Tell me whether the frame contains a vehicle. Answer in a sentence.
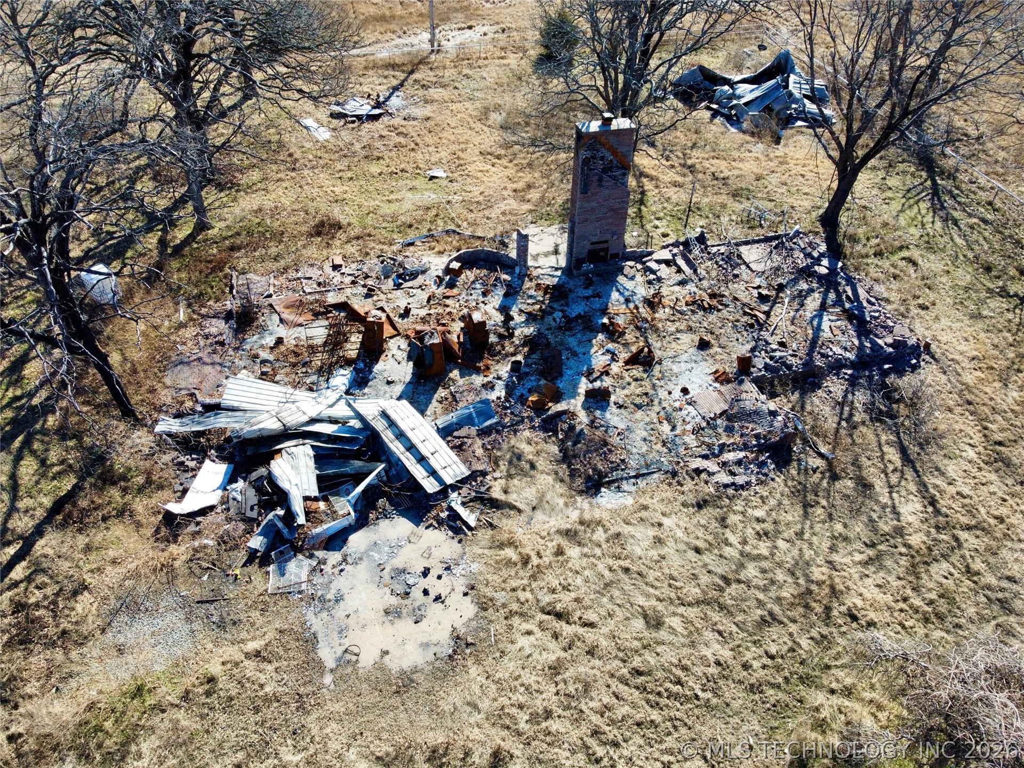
No, there's no vehicle here.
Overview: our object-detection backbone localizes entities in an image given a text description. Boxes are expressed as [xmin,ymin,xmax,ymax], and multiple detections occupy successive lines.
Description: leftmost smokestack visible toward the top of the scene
[557,109,637,275]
